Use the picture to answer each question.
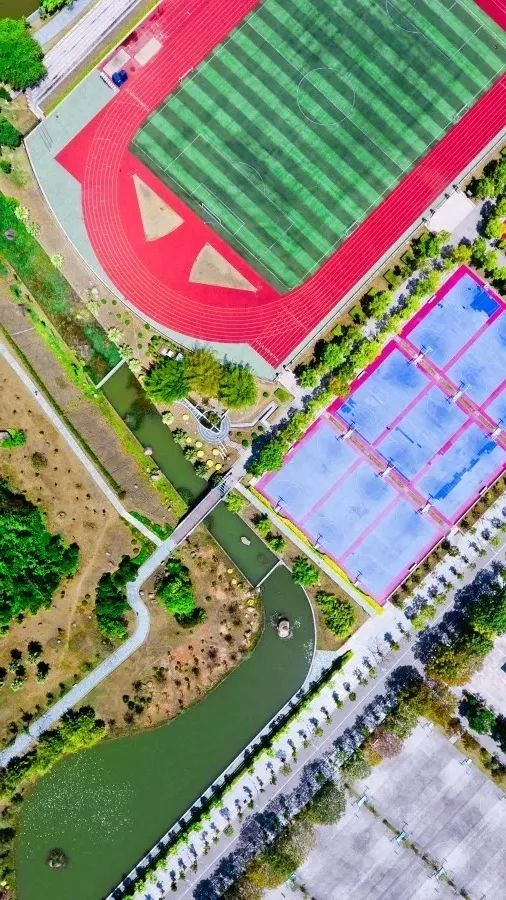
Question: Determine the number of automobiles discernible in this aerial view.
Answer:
0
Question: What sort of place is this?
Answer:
sports ground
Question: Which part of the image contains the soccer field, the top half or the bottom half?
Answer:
top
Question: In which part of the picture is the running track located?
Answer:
top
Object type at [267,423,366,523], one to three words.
basketball court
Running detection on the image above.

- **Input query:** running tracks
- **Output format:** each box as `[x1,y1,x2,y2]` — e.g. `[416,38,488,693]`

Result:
[57,0,506,367]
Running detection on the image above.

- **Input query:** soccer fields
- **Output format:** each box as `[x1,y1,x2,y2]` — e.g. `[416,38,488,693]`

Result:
[129,0,506,294]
